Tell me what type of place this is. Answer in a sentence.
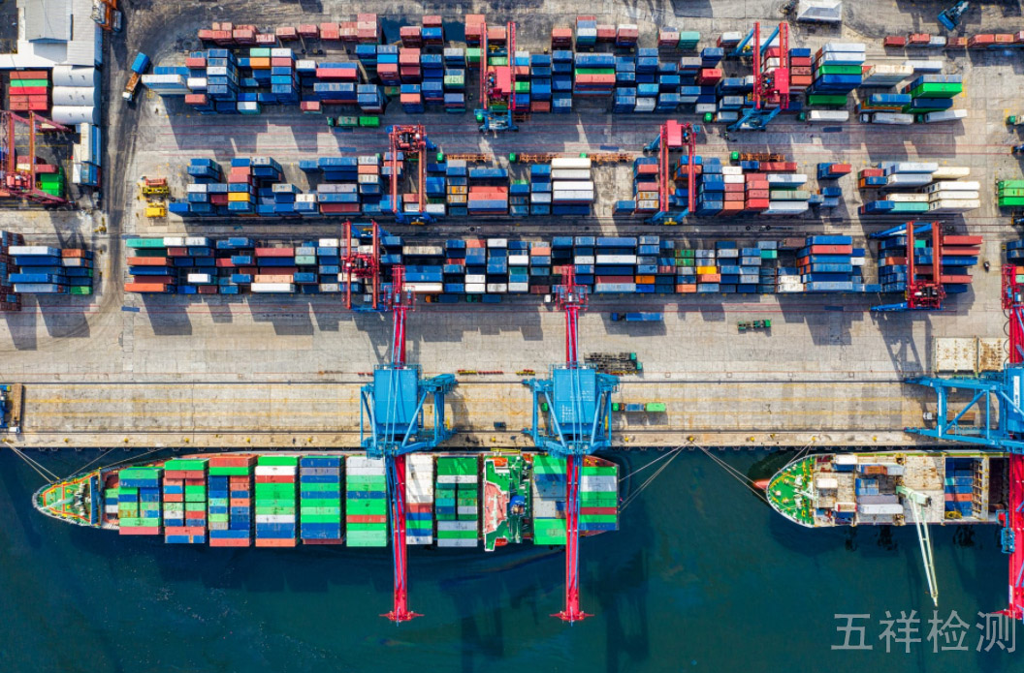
This image shows a port.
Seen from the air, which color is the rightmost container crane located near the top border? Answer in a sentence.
The rightmost container crane located near the top border is red.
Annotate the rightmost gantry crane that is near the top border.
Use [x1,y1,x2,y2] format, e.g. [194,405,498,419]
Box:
[730,21,793,128]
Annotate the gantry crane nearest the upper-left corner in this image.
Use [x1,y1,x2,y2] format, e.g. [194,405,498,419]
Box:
[4,109,83,208]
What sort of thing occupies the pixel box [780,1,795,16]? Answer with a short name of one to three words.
work vehicle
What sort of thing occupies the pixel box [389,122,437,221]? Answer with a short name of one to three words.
container crane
